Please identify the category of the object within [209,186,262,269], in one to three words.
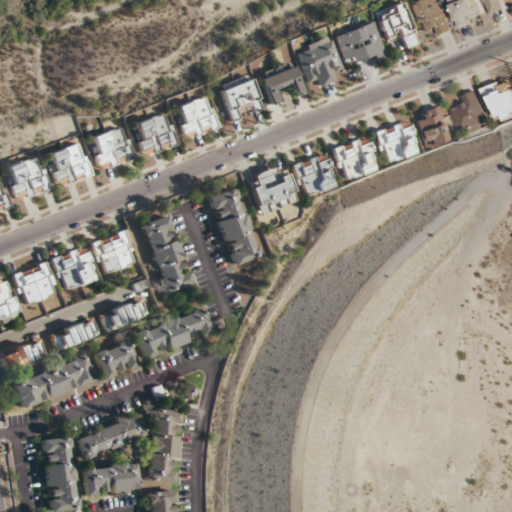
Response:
building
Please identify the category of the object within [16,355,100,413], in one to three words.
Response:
building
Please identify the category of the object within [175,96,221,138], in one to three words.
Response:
house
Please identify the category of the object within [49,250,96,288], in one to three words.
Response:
house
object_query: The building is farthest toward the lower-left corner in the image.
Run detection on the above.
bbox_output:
[40,436,80,512]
